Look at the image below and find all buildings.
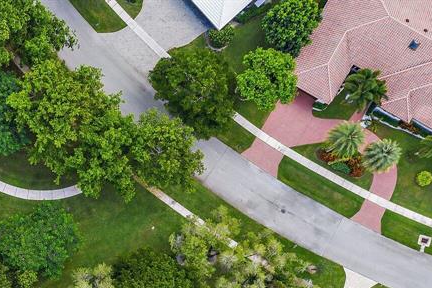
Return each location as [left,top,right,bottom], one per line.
[293,0,432,133]
[186,0,250,29]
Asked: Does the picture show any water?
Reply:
No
